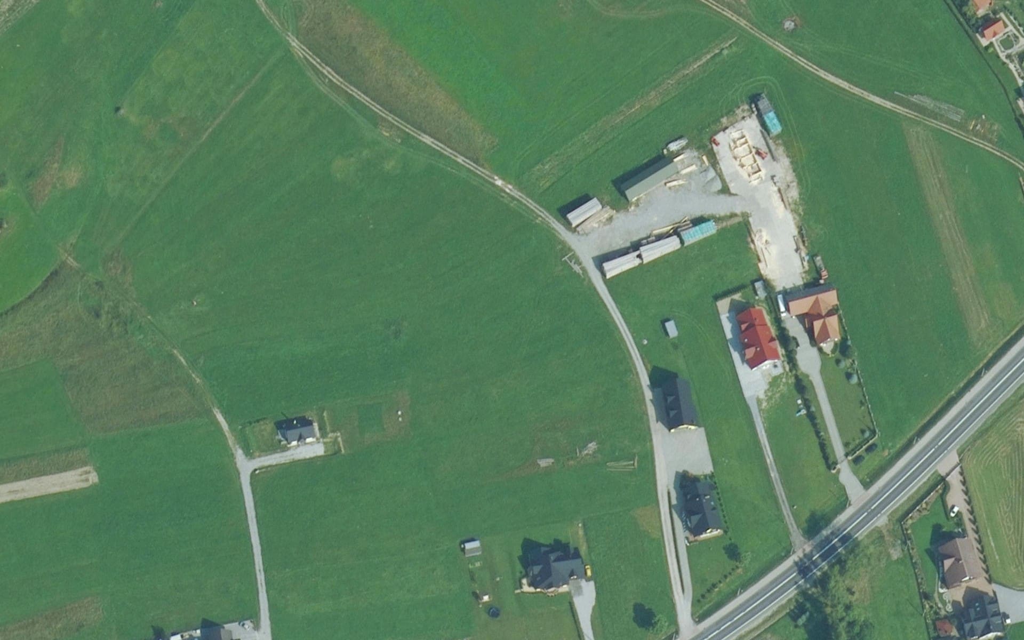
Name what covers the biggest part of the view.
grass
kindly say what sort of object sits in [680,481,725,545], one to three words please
house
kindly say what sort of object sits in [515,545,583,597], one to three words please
house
